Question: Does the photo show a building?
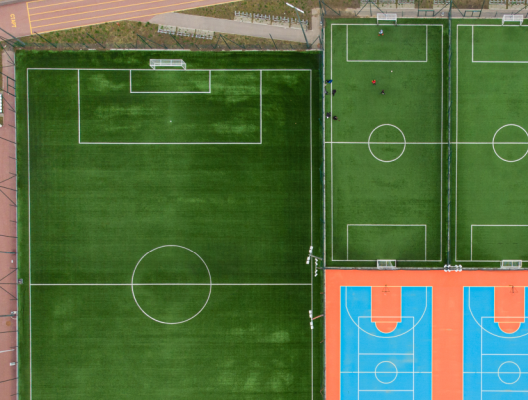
No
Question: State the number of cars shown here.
0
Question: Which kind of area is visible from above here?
sports ground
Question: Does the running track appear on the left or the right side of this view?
left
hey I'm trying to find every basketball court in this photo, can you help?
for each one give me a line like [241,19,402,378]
[448,270,528,400]
[326,270,448,400]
